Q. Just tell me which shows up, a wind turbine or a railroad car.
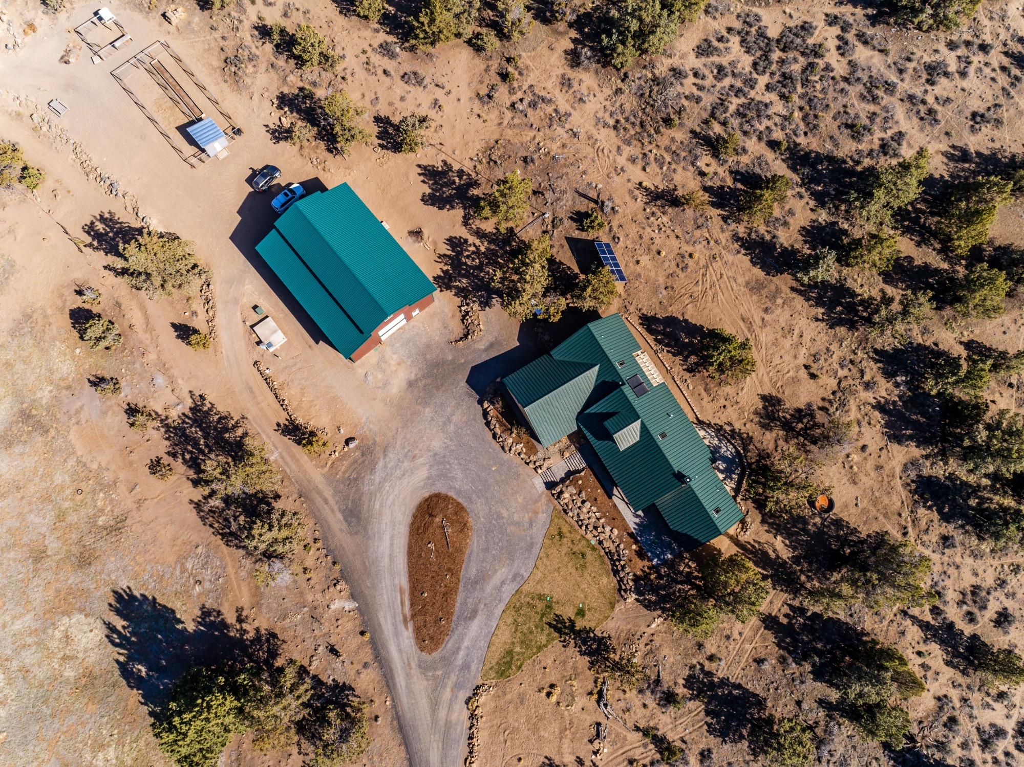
wind turbine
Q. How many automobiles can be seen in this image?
2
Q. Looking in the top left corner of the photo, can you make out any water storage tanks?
No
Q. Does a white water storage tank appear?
No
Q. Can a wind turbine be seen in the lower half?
No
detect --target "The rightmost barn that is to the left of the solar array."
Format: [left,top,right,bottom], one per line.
[256,184,436,363]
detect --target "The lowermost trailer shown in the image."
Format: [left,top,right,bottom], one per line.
[252,316,289,355]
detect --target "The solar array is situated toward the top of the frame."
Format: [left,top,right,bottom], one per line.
[595,242,627,282]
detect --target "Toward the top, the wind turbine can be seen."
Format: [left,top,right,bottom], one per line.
[525,159,571,236]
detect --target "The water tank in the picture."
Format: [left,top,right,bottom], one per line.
[810,493,836,525]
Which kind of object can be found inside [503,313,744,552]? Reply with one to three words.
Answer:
house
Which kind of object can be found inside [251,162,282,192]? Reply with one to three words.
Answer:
car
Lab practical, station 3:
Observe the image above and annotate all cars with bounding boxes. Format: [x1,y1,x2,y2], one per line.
[271,181,306,212]
[251,162,282,192]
